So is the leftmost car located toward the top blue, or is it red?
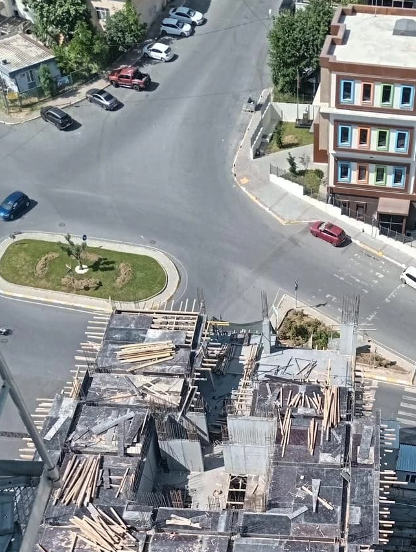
blue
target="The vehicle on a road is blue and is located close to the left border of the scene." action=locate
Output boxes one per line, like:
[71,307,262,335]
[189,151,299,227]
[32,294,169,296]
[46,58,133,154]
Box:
[0,186,32,220]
